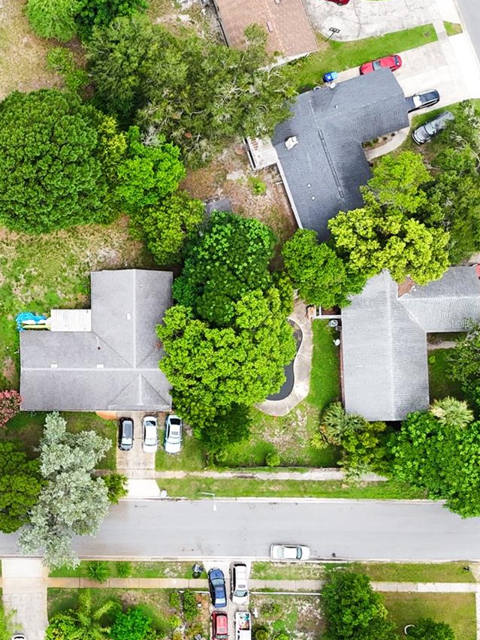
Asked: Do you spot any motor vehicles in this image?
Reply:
Yes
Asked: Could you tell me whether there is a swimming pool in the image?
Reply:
Yes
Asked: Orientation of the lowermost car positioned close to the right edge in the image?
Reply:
on a diagonal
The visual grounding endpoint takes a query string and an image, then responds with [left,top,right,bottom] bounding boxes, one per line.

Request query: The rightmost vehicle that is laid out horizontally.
[405,86,447,109]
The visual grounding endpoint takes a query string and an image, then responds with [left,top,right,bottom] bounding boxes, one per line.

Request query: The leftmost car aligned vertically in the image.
[120,417,137,452]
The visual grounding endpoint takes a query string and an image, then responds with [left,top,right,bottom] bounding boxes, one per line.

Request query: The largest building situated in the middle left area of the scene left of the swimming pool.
[21,269,174,411]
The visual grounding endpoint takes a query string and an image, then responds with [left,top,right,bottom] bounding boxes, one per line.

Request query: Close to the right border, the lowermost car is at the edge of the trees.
[414,108,458,141]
